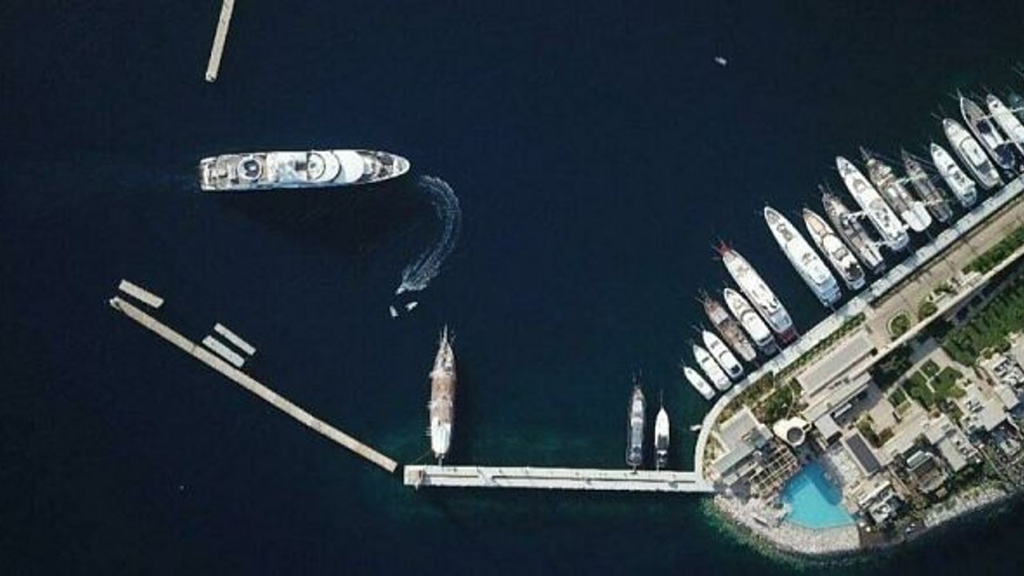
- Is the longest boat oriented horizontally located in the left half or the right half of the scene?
left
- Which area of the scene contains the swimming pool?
bottom right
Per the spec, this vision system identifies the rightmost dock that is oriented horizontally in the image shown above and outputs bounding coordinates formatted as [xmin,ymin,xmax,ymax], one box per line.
[404,465,694,493]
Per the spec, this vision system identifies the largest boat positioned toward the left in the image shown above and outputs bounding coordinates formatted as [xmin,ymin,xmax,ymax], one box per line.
[200,149,409,190]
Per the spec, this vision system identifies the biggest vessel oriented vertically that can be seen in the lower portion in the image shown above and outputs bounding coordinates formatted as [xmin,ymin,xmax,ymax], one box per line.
[429,322,457,464]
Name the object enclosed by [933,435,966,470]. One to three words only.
building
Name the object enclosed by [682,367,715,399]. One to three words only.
boat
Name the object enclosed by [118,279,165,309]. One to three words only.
pier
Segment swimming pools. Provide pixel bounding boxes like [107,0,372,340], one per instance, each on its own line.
[783,462,856,530]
